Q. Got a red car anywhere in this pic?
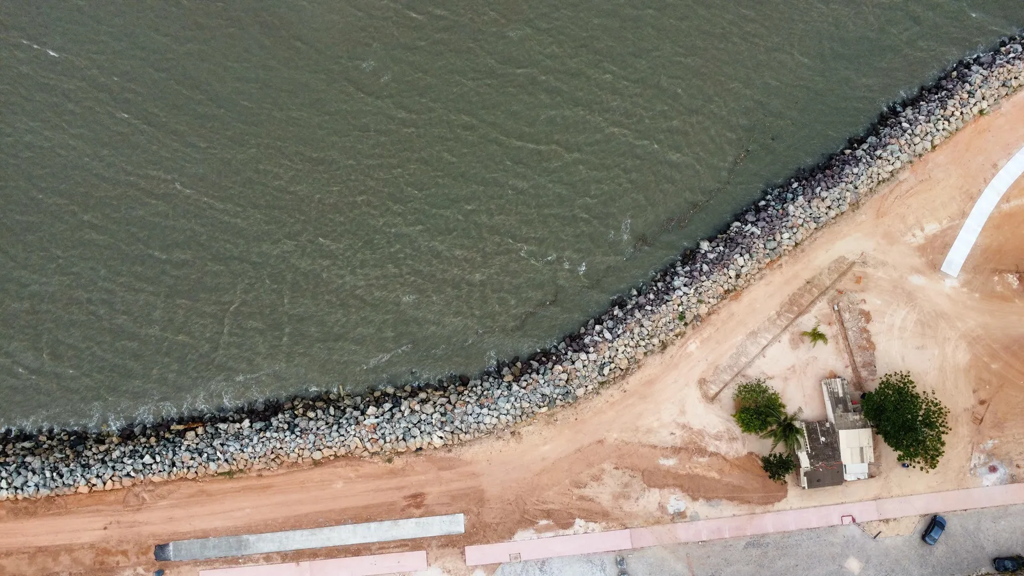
No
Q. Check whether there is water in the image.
Yes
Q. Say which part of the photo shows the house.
bottom right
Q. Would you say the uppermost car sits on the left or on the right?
right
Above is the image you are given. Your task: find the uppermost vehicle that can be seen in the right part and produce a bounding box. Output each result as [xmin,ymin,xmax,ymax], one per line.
[923,515,947,547]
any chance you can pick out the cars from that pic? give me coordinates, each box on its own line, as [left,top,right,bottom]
[923,515,947,547]
[993,557,1024,574]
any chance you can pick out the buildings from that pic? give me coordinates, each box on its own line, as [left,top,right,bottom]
[794,377,883,489]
